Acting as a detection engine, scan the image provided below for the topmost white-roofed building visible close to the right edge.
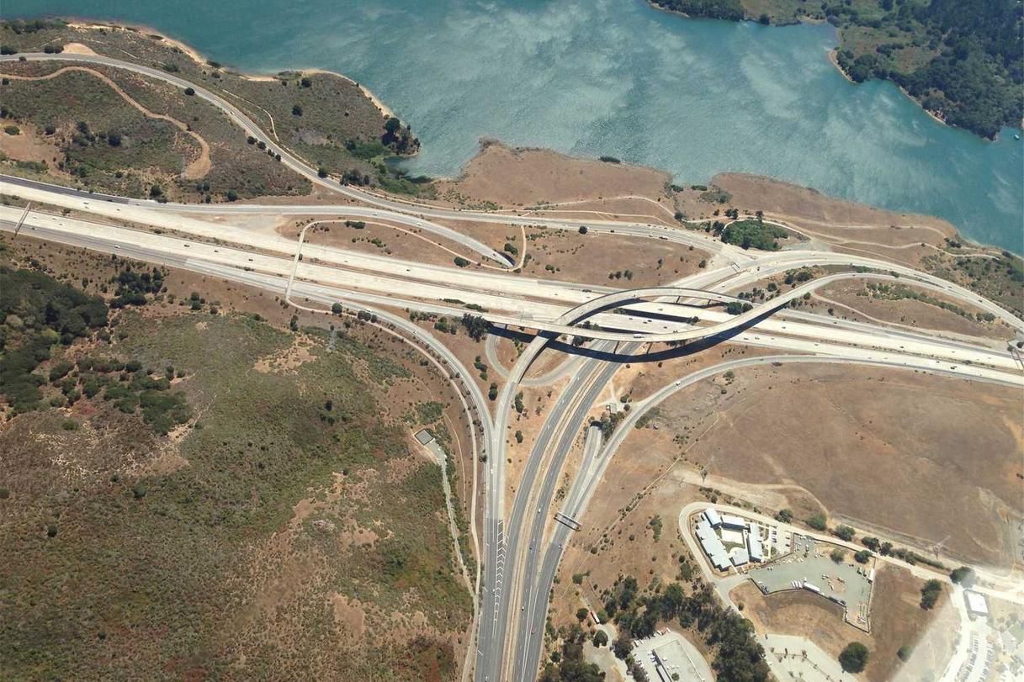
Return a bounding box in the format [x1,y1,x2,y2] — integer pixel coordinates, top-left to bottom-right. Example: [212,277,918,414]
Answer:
[965,592,988,615]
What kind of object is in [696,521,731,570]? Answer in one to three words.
building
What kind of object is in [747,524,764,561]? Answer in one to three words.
building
